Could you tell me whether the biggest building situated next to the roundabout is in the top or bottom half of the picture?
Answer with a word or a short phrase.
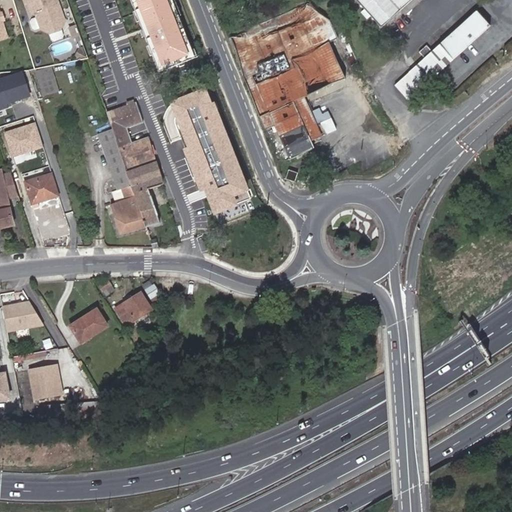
top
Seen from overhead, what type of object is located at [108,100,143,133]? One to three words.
house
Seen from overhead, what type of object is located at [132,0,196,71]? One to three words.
building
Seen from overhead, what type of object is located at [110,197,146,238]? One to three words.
house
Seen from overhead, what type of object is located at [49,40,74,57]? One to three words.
swimming pool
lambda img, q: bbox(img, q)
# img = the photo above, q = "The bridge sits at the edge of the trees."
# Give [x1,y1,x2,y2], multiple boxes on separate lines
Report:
[383,310,430,512]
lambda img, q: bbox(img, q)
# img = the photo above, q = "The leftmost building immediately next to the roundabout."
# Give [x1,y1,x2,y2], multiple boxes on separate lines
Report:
[164,90,254,221]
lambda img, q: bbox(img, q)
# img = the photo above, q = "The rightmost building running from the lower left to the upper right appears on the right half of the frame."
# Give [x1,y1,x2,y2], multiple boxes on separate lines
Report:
[441,10,491,62]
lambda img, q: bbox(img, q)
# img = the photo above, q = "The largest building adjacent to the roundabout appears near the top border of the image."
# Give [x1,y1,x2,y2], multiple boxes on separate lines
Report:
[232,4,345,160]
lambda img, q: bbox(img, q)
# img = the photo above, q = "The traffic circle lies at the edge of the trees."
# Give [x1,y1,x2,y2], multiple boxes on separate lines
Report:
[298,180,411,440]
